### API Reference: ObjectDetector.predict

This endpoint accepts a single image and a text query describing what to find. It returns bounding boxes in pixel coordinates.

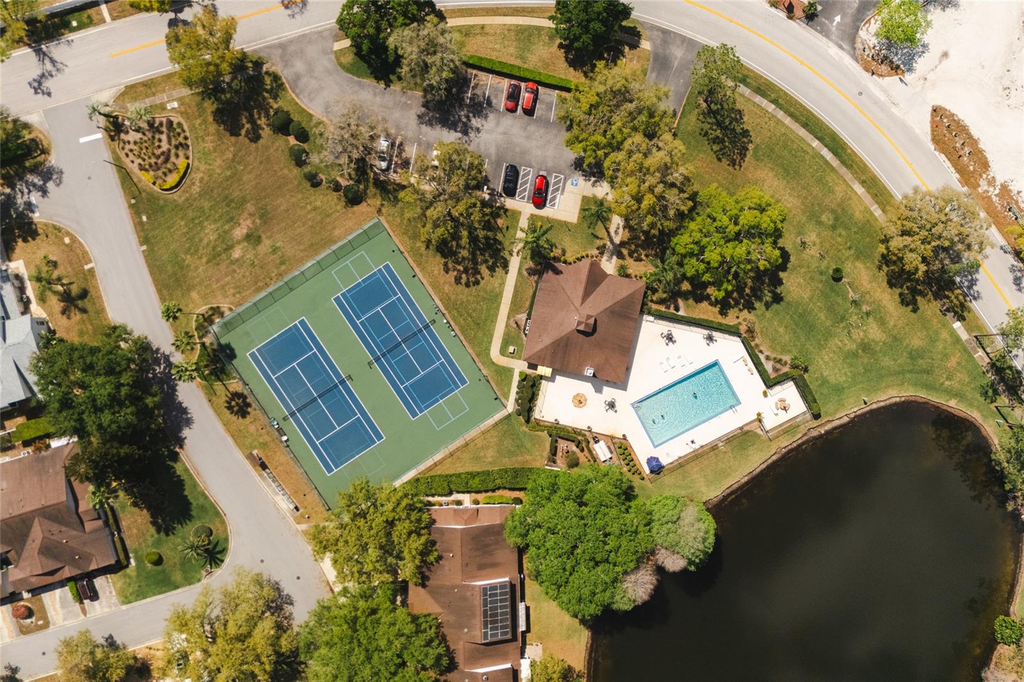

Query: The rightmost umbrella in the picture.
[648,459,666,476]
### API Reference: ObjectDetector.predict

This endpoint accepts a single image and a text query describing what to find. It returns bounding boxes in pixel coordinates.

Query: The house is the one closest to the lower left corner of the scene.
[0,447,119,596]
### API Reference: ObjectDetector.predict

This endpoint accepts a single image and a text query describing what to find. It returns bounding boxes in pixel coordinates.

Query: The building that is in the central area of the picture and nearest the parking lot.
[523,259,645,383]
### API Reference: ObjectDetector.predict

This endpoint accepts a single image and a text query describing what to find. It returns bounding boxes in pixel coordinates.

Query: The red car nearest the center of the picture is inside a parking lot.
[533,176,547,207]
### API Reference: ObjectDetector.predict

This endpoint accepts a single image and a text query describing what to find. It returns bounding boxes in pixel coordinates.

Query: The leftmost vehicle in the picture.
[78,574,100,605]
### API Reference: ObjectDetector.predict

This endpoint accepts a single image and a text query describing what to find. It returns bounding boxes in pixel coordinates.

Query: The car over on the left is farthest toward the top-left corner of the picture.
[376,139,391,169]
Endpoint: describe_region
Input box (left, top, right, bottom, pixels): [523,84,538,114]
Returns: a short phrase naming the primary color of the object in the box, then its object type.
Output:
red car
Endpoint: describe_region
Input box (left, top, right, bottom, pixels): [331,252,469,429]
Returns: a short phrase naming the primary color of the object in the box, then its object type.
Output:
blue tennis court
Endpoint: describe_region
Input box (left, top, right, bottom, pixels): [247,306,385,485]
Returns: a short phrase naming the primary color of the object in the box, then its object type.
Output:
blue tennis court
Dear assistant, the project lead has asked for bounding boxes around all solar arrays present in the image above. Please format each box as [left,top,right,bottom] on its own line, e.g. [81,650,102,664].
[482,584,509,641]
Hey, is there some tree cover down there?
Yes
